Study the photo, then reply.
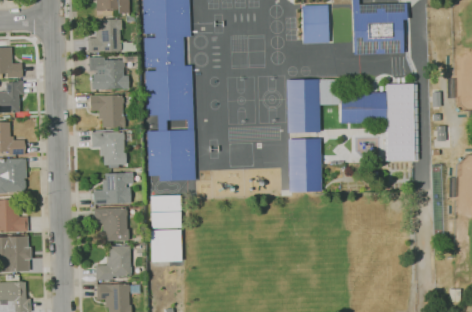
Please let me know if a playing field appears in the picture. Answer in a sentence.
Yes, there's a playing field down there.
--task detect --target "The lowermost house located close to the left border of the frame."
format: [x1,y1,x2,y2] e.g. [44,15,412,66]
[0,276,32,312]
